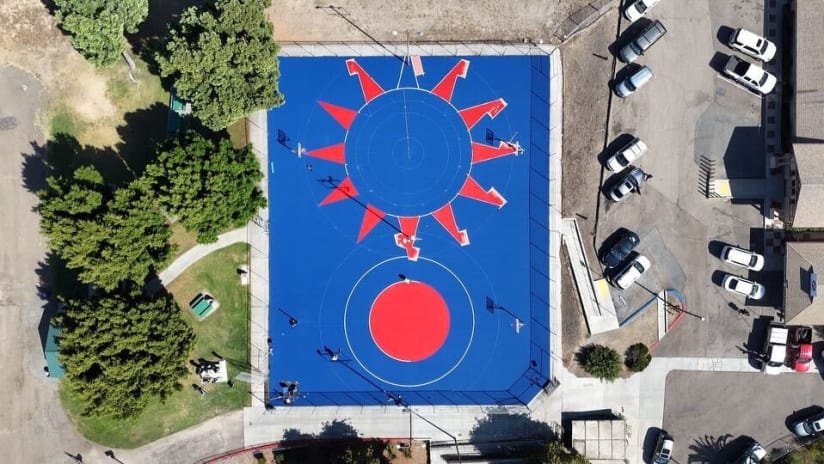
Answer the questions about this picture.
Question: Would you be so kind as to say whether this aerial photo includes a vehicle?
Yes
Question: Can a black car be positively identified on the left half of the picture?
No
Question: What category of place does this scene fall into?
sports ground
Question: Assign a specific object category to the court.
basketball court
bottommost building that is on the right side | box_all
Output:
[778,242,824,324]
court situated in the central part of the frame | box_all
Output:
[268,56,550,405]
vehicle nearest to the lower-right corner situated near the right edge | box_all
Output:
[790,408,824,438]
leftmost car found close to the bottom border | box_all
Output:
[649,432,680,464]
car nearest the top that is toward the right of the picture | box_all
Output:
[623,0,666,23]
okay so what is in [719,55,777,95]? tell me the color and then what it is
white vehicle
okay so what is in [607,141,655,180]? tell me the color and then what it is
white car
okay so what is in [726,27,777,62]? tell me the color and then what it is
white car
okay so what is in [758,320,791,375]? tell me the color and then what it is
white vehicle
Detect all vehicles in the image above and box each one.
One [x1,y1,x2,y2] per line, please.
[618,21,669,65]
[721,248,771,276]
[723,436,768,464]
[790,408,824,438]
[605,234,648,273]
[726,27,777,62]
[719,55,777,95]
[623,0,666,23]
[607,141,655,180]
[614,258,658,297]
[786,323,818,372]
[758,320,791,375]
[608,175,653,212]
[612,64,654,100]
[649,432,680,464]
